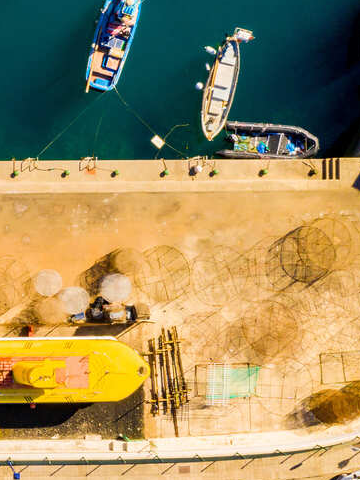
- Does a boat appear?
Yes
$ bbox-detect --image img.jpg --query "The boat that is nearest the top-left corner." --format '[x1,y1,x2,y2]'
[85,0,143,94]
